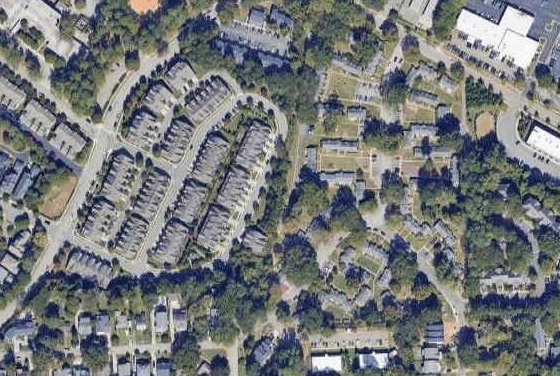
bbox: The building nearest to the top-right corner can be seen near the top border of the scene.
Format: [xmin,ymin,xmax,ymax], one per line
[458,6,539,68]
